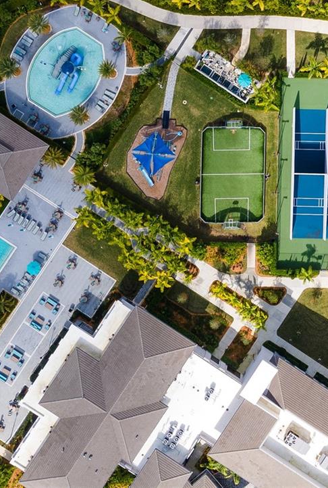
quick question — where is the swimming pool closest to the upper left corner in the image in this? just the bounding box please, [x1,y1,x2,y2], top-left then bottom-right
[26,27,104,116]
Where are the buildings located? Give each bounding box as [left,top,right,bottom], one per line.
[0,114,49,201]
[11,300,250,488]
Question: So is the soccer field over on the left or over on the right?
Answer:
right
